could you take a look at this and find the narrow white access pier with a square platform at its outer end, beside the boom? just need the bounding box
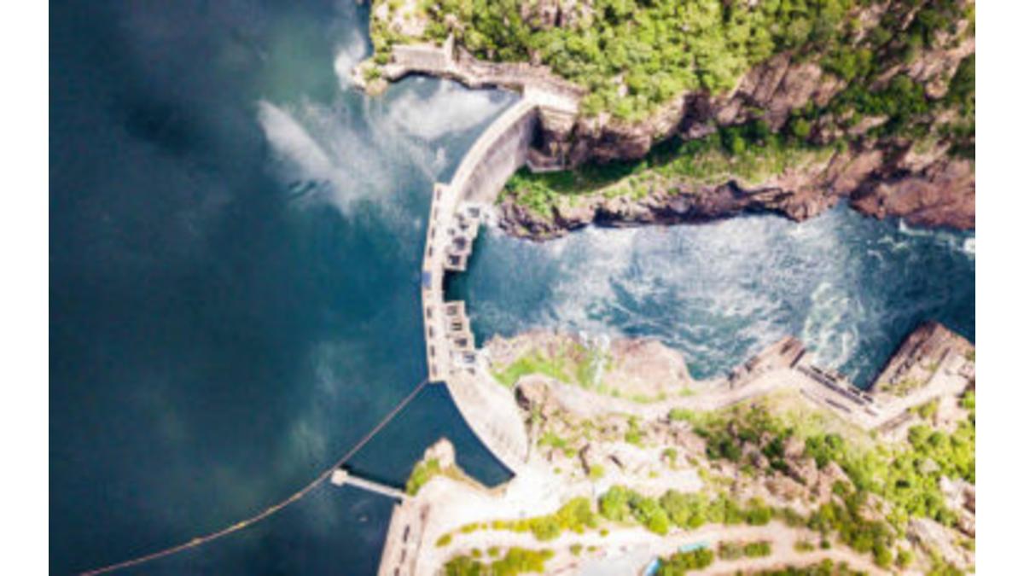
[331,467,410,501]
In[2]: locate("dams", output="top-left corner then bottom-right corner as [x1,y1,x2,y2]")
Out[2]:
[422,98,538,475]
